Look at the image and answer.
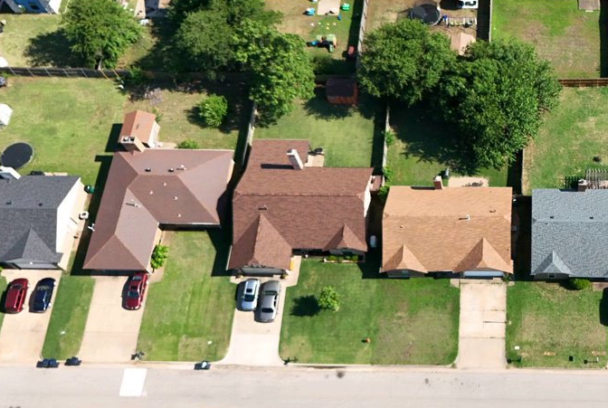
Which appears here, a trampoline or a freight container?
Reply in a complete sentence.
There is a trampoline in the scene.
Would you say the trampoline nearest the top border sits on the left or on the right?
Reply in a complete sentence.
The trampoline nearest the top border is on the right side of the image.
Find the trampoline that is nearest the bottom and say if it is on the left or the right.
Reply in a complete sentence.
You can find the trampoline that is nearest the bottom on the left side of the picture.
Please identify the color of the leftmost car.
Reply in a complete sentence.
The leftmost car looks red in the image.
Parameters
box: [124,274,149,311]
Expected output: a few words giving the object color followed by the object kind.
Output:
red car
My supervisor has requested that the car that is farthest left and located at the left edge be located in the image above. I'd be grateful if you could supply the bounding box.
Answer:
[1,278,32,315]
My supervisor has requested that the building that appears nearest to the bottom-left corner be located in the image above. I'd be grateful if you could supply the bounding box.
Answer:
[0,165,87,272]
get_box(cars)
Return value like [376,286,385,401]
[1,278,32,315]
[30,278,57,314]
[258,281,282,322]
[237,277,261,313]
[124,274,149,311]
